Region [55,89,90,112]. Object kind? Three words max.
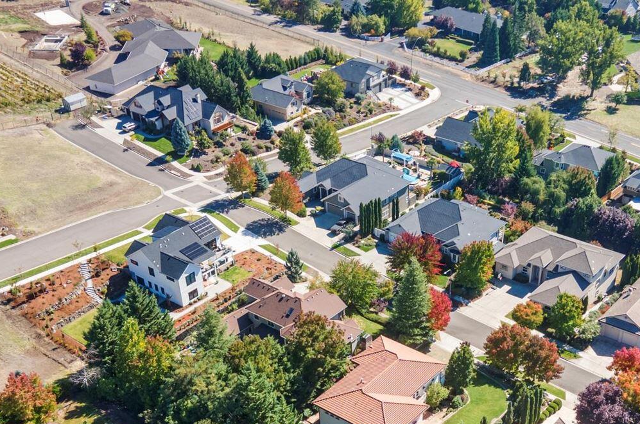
shed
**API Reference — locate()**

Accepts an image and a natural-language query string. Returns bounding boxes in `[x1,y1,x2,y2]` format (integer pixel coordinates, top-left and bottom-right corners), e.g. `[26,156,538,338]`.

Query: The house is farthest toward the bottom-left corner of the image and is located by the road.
[119,206,245,307]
